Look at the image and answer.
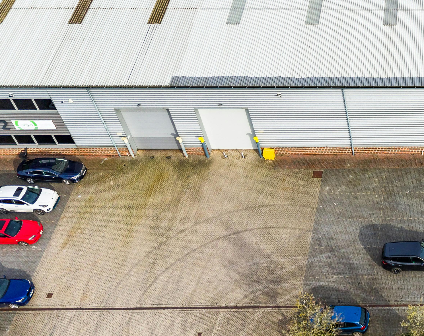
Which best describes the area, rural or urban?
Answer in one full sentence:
The area is urban.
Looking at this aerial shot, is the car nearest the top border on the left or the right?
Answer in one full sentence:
It is on the left.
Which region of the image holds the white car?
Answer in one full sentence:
The white car is in the left part of the image.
